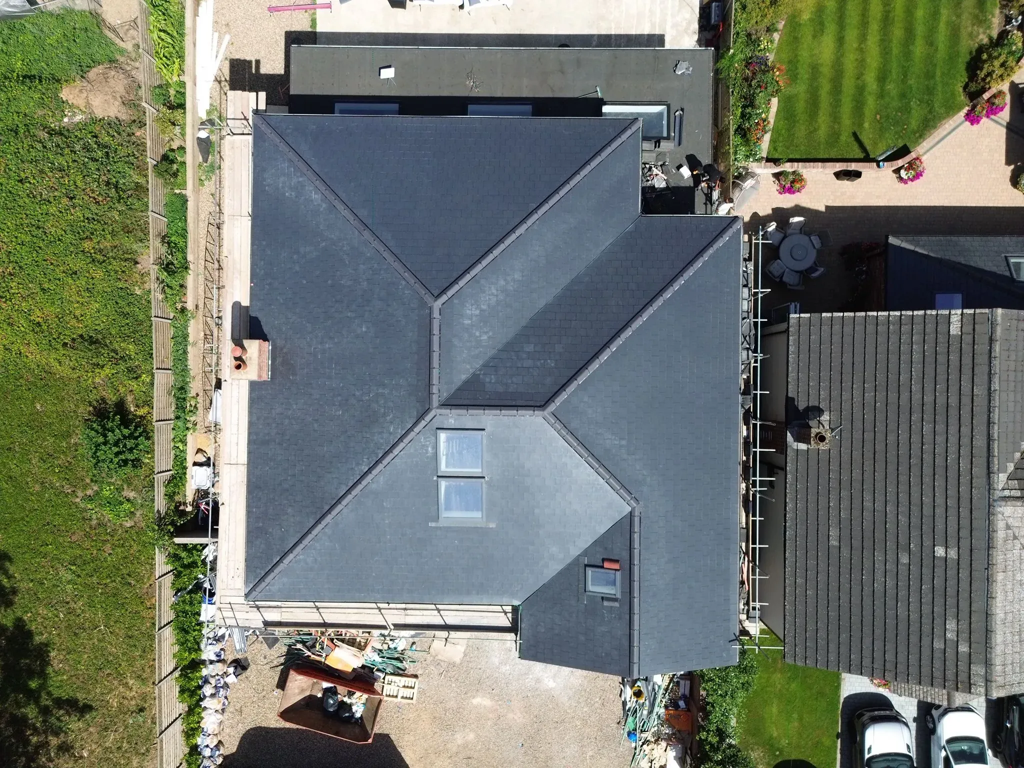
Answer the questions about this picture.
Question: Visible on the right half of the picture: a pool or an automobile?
automobile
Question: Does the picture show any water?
No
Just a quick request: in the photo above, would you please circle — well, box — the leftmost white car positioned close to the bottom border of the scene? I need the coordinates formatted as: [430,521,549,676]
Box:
[851,712,925,768]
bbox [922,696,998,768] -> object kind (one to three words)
car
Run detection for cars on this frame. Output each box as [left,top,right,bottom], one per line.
[995,686,1024,768]
[851,712,925,768]
[922,696,998,768]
